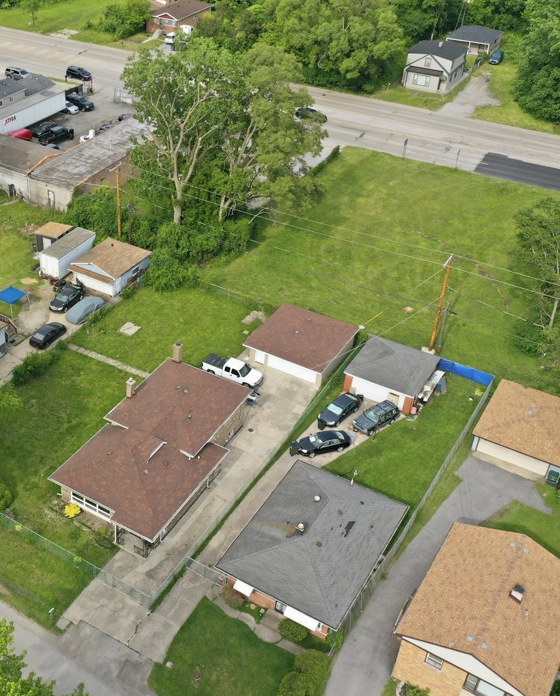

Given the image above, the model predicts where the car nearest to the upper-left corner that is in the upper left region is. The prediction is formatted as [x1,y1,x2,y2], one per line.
[3,66,32,81]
